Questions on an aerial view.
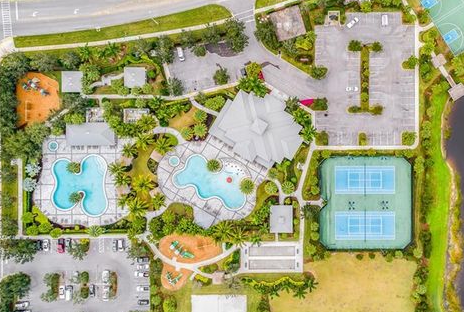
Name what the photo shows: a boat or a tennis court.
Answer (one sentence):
Visible in the photo is a tennis court.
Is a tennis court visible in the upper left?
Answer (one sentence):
No, in the upper left there is no tennis court.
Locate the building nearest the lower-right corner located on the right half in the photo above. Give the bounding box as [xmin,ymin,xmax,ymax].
[270,205,293,233]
